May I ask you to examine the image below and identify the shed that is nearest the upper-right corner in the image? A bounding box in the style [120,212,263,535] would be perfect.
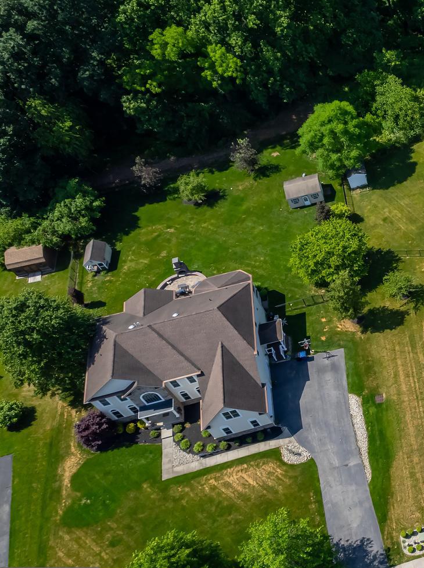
[343,160,371,190]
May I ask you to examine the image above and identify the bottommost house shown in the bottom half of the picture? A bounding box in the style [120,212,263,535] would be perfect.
[84,269,289,439]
